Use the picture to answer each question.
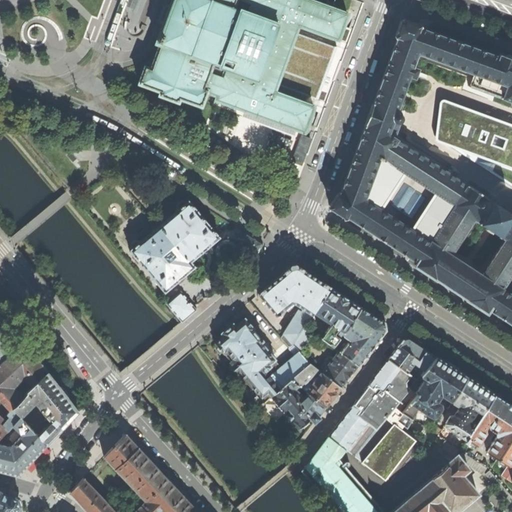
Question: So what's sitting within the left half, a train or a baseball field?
train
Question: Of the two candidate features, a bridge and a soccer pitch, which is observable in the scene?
bridge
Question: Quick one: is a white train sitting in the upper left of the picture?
Yes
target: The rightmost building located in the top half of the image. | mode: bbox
[438,100,512,174]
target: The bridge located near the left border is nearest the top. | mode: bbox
[8,192,71,246]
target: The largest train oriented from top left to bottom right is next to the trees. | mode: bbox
[92,114,184,174]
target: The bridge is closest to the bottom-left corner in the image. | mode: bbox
[127,320,200,386]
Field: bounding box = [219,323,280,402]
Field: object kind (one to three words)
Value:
house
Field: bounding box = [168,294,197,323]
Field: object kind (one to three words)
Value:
shed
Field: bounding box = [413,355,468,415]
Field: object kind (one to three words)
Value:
building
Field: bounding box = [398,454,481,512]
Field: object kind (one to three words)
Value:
building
